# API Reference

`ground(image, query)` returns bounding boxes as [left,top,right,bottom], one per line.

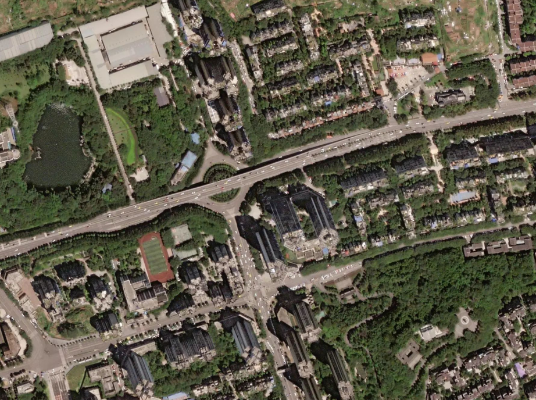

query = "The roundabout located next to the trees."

[191,150,251,215]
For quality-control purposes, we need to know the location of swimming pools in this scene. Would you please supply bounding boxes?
[450,188,480,205]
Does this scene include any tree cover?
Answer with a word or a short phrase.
Yes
